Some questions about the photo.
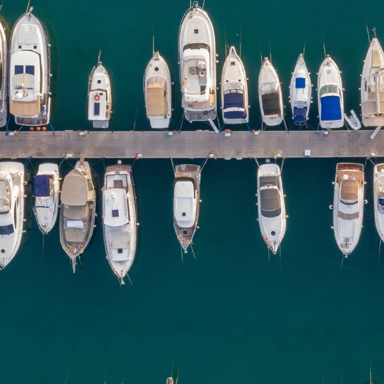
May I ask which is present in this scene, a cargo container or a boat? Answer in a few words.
boat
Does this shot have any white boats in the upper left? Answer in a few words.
Yes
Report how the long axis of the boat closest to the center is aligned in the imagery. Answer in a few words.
from top to bottom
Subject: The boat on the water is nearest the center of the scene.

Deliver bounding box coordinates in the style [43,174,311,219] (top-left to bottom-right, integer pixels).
[172,165,200,255]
